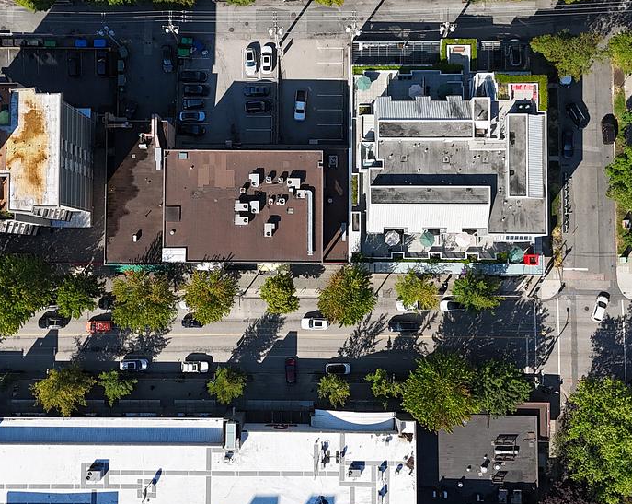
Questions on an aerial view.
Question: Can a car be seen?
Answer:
Yes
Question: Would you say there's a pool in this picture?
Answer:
No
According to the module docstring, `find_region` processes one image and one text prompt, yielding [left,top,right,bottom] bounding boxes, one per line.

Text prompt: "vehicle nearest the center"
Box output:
[301,319,329,331]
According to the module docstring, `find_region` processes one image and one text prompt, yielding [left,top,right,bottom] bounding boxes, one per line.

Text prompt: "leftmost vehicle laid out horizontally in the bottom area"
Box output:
[40,318,68,330]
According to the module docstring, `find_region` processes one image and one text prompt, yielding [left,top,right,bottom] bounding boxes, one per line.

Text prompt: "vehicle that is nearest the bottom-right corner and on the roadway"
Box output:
[591,293,608,321]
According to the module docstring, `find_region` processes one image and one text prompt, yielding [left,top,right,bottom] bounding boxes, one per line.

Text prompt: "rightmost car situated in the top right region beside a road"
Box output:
[602,115,617,144]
